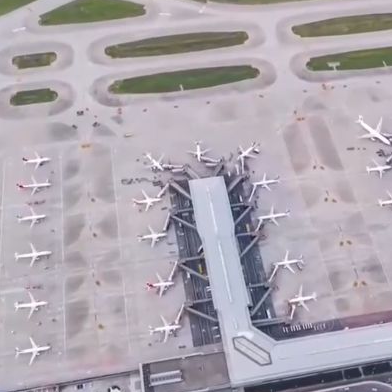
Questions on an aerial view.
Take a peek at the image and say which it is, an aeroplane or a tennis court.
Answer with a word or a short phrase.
aeroplane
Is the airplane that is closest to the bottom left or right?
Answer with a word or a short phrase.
left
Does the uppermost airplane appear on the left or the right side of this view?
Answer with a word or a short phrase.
right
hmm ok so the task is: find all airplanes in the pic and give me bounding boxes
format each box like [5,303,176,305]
[253,171,280,191]
[289,284,316,311]
[139,226,167,248]
[16,291,48,317]
[151,314,180,342]
[16,241,52,266]
[238,143,258,158]
[144,153,164,170]
[146,271,175,297]
[17,206,47,228]
[137,190,161,211]
[260,203,288,225]
[24,150,50,168]
[369,158,391,177]
[18,175,51,195]
[16,334,50,364]
[355,114,389,143]
[275,249,302,272]
[187,143,210,162]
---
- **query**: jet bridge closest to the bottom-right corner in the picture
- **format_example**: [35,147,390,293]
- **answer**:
[254,303,295,326]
